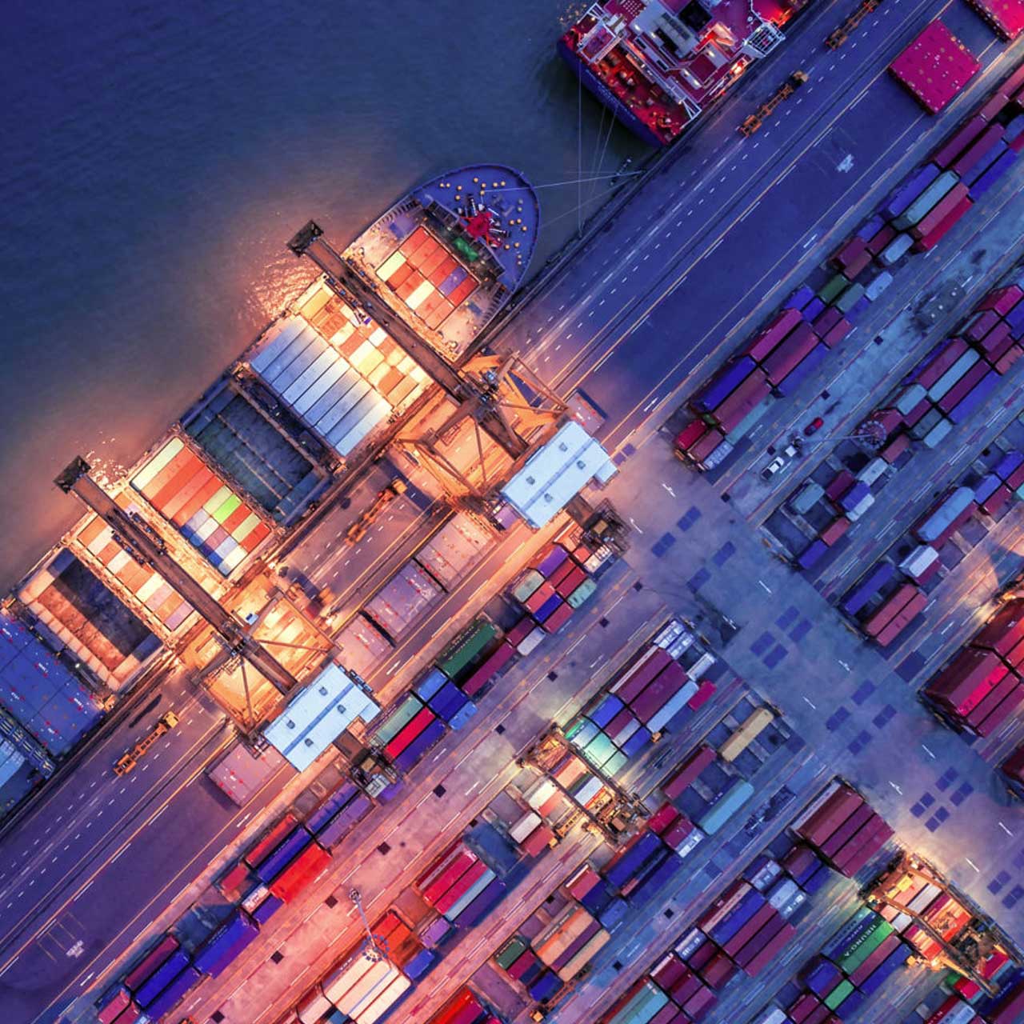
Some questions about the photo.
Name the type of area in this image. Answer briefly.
port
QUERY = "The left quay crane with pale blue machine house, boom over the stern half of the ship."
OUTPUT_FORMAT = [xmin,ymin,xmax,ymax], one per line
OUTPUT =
[47,450,404,801]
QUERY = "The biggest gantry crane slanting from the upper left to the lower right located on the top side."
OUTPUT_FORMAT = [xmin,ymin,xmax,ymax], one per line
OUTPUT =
[280,211,637,563]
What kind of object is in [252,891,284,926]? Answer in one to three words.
shipping container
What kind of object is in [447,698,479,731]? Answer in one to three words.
shipping container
